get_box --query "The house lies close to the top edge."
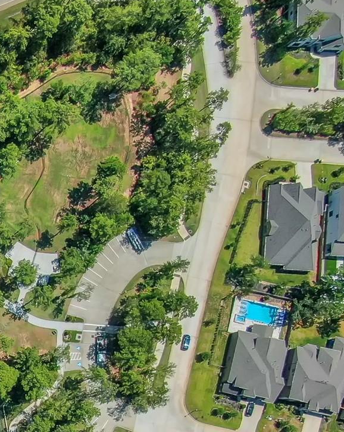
[287,0,344,57]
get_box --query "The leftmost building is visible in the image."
[218,324,287,403]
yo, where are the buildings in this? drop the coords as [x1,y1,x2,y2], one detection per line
[287,0,344,57]
[283,337,344,413]
[218,324,287,403]
[326,186,344,257]
[259,180,325,271]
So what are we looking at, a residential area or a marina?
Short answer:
residential area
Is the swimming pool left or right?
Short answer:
right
